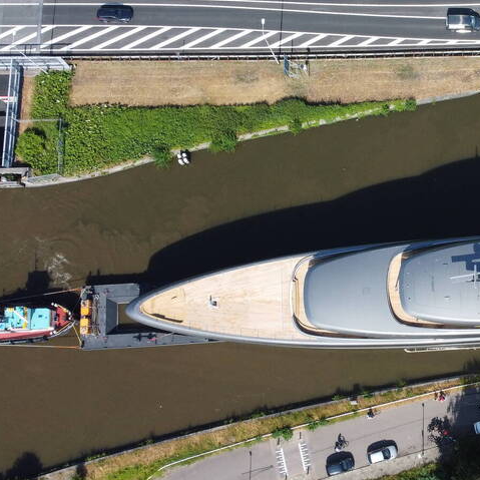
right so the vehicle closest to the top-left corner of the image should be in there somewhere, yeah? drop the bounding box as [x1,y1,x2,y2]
[96,5,134,23]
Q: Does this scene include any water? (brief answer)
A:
Yes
